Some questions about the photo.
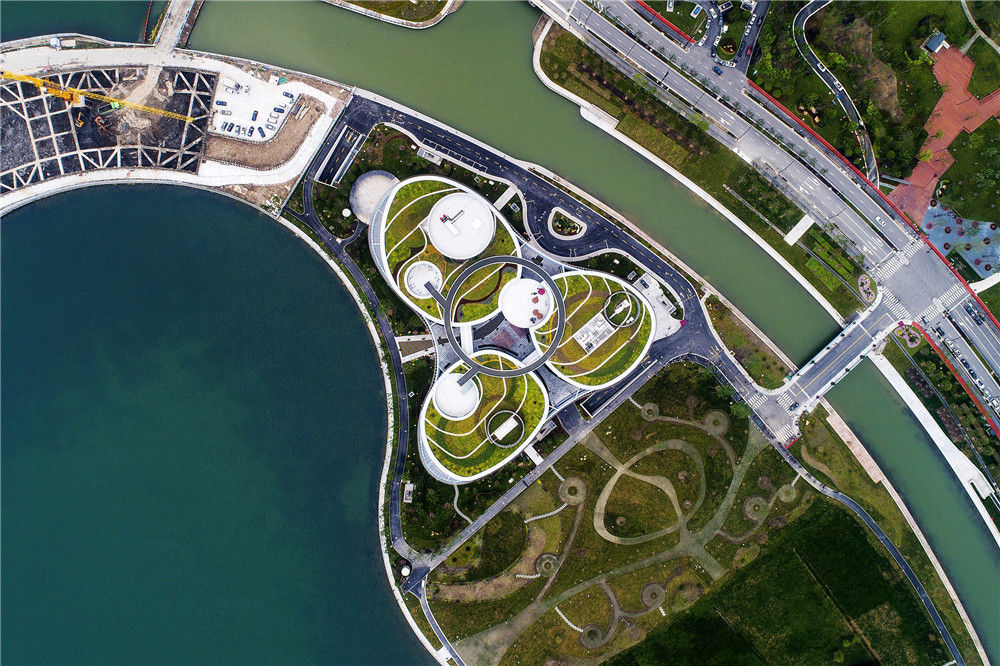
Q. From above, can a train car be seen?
No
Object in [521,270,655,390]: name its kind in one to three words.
building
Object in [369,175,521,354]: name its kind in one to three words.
building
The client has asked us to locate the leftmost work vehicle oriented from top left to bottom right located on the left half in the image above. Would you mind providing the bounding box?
[92,113,108,133]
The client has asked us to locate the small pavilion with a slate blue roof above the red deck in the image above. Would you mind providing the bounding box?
[921,29,951,54]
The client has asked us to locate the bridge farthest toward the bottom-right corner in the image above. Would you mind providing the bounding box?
[796,312,887,413]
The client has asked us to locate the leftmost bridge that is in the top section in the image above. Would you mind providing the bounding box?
[153,0,203,48]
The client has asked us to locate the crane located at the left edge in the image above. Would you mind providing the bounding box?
[0,65,193,123]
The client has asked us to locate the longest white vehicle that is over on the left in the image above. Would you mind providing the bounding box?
[219,76,239,89]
